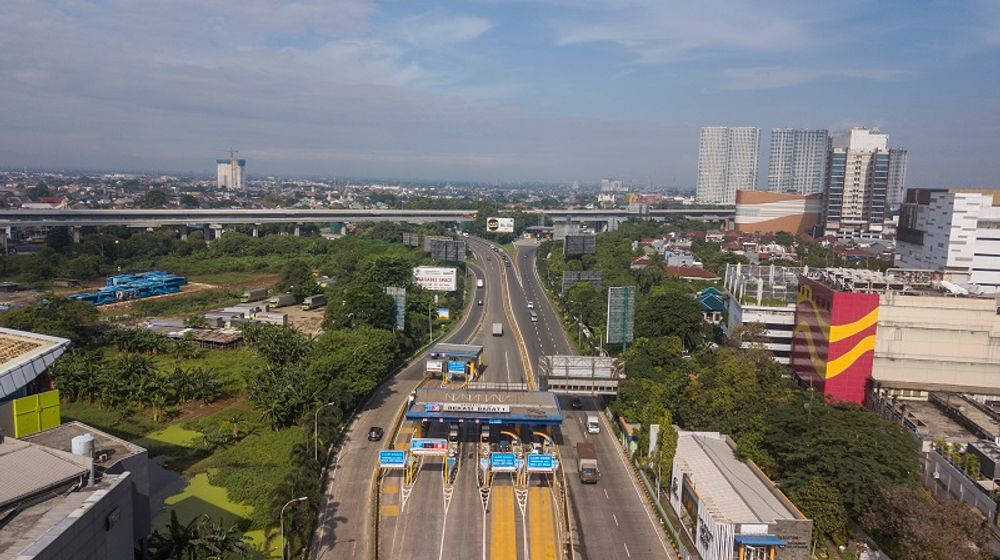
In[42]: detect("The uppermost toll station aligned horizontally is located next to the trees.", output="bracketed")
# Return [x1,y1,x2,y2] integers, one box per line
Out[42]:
[521,223,553,237]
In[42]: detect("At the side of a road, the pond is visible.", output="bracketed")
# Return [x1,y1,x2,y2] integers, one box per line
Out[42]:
[138,419,278,560]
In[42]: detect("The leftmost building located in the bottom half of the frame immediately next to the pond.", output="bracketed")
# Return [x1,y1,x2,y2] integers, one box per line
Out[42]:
[0,330,149,560]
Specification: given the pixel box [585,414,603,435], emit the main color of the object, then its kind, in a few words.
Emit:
white car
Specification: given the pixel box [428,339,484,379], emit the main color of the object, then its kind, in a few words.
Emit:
gray toll station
